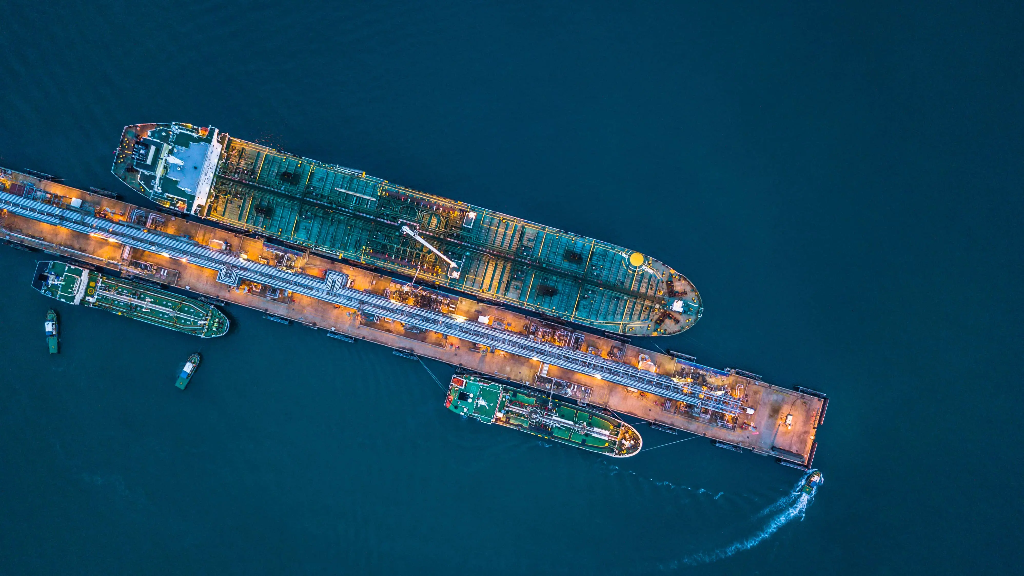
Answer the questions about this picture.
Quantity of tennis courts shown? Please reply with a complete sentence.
The count of tennis courts is 0.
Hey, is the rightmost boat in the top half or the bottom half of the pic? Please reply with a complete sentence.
The rightmost boat sits in the bottom half of the picture.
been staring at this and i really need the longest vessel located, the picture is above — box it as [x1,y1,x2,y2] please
[110,122,704,336]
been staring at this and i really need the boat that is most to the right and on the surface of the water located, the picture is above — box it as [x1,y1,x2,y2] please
[802,469,822,495]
